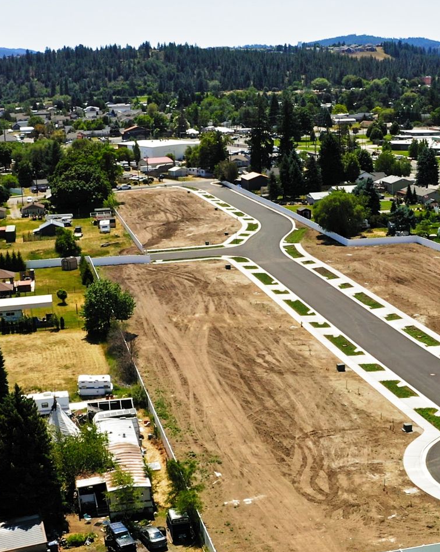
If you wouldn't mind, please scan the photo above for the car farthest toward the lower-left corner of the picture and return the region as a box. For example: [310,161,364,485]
[109,518,140,551]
